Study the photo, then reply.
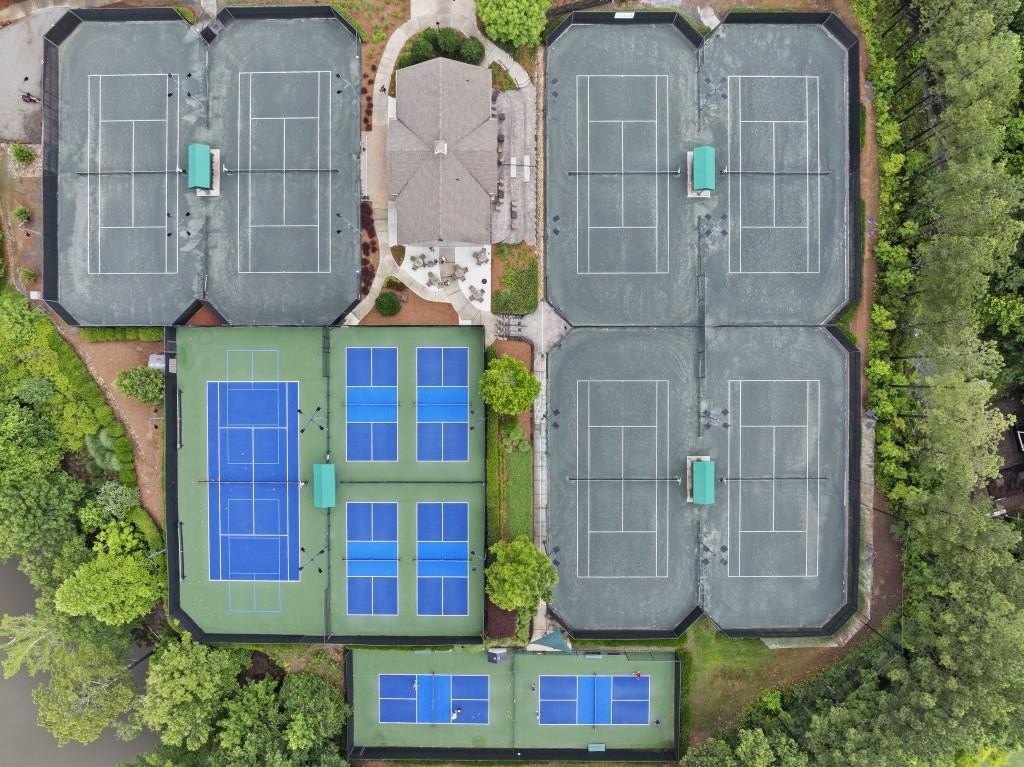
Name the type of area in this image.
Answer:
sports ground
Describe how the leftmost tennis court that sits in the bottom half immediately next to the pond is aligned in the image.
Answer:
vertically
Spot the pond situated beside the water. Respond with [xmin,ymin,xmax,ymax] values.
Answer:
[0,551,155,767]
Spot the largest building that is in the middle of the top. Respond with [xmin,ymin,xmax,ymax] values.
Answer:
[387,57,497,249]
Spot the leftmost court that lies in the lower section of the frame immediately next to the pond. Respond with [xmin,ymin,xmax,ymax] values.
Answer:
[206,350,300,612]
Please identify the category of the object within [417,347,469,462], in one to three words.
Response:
sports court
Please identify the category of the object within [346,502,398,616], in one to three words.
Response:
sports court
